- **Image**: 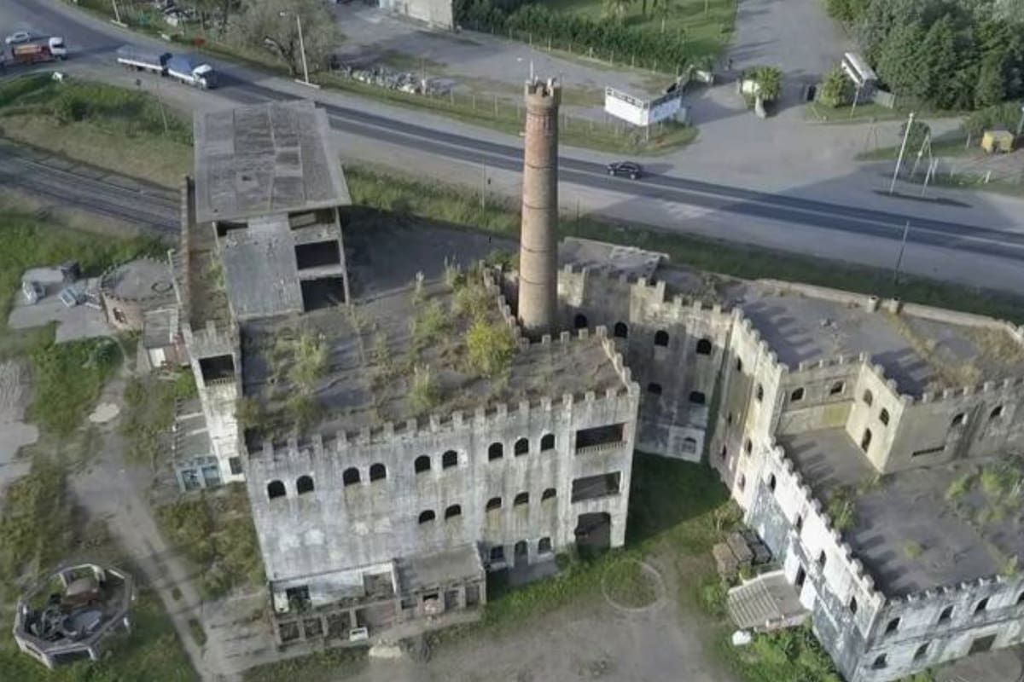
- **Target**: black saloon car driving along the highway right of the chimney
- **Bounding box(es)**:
[607,164,644,182]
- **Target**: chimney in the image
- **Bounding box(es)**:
[511,55,561,344]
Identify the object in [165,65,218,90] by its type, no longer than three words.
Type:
truck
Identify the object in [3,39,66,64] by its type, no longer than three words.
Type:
truck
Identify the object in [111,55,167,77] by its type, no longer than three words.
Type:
trailer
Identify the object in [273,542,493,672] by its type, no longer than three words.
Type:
building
